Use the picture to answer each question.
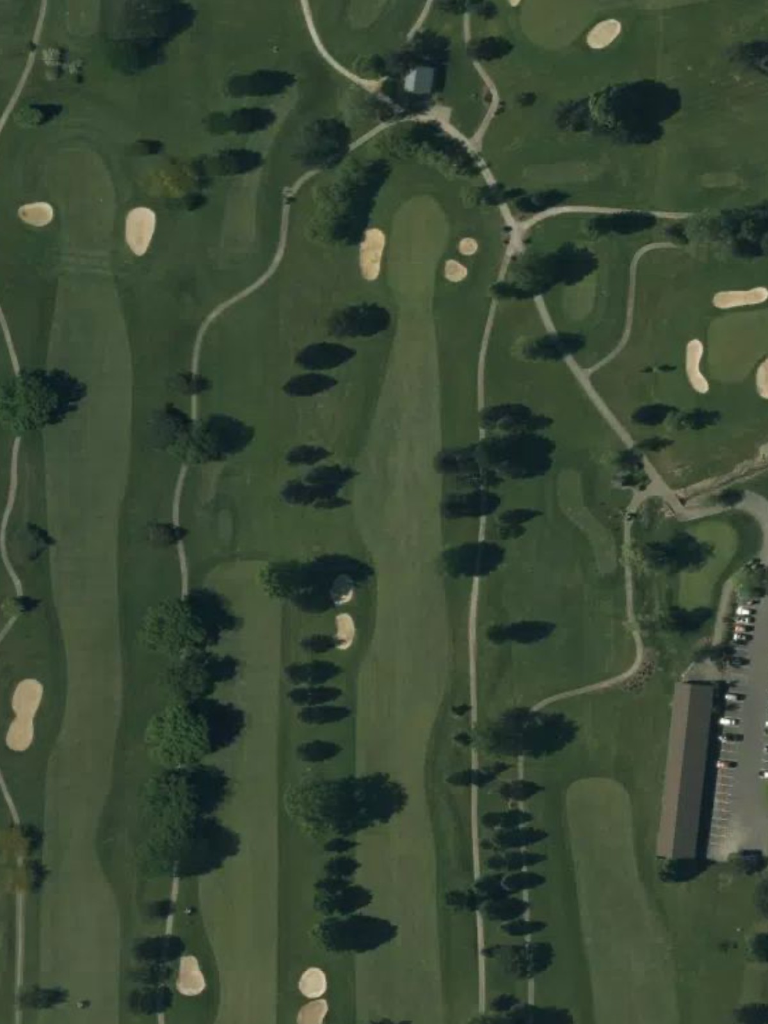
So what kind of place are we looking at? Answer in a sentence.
The area seen from above is a golf course.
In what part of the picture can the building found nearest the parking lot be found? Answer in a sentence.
The building found nearest the parking lot is located in the bottom right region of the scene.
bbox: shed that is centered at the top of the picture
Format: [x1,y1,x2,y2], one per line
[404,68,437,93]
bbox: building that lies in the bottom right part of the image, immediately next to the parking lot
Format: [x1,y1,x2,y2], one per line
[657,682,717,858]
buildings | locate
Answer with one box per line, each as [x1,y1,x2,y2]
[404,68,437,93]
[657,682,717,858]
